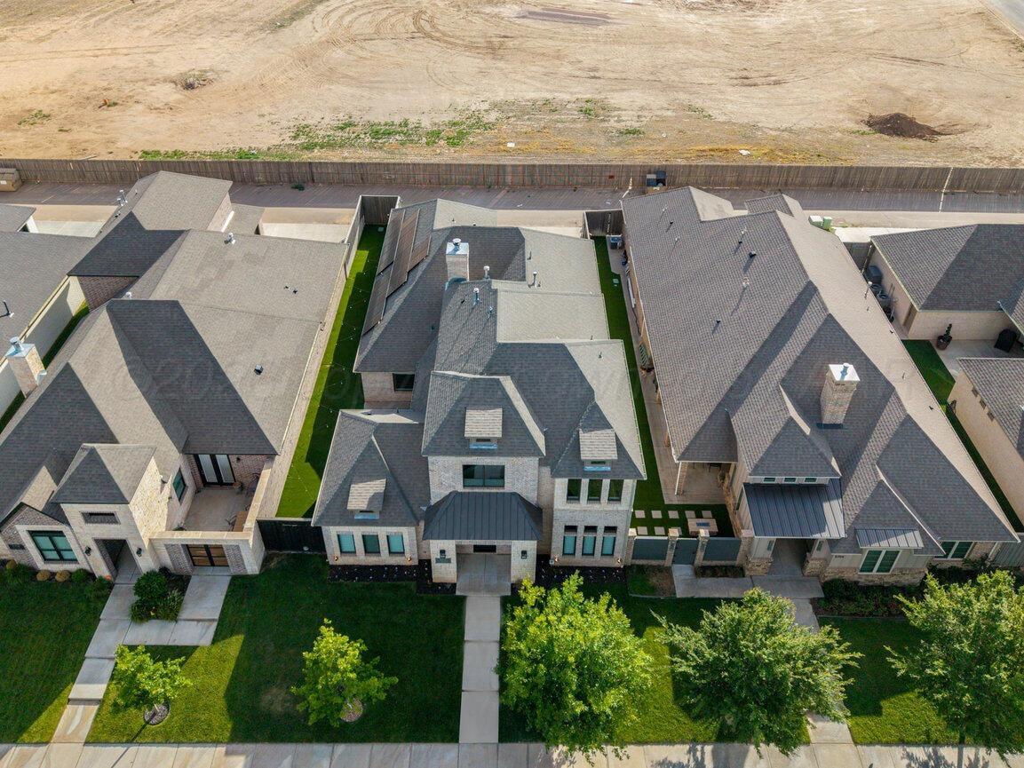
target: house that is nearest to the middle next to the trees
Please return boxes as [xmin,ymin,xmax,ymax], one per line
[310,198,650,582]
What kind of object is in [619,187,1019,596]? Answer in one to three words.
house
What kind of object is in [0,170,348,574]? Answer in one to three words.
house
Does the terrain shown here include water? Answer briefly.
No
